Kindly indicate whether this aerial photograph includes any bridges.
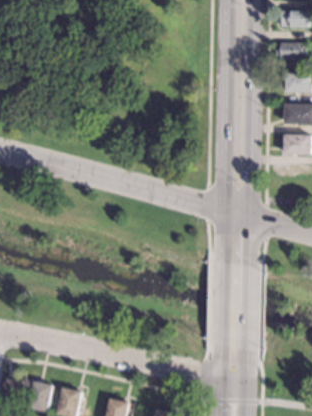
Yes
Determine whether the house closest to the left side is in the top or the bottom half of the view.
bottom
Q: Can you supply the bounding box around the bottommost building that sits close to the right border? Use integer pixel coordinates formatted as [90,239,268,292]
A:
[284,134,312,154]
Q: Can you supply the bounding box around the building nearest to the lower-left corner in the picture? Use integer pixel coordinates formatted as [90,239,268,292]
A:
[31,382,55,412]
